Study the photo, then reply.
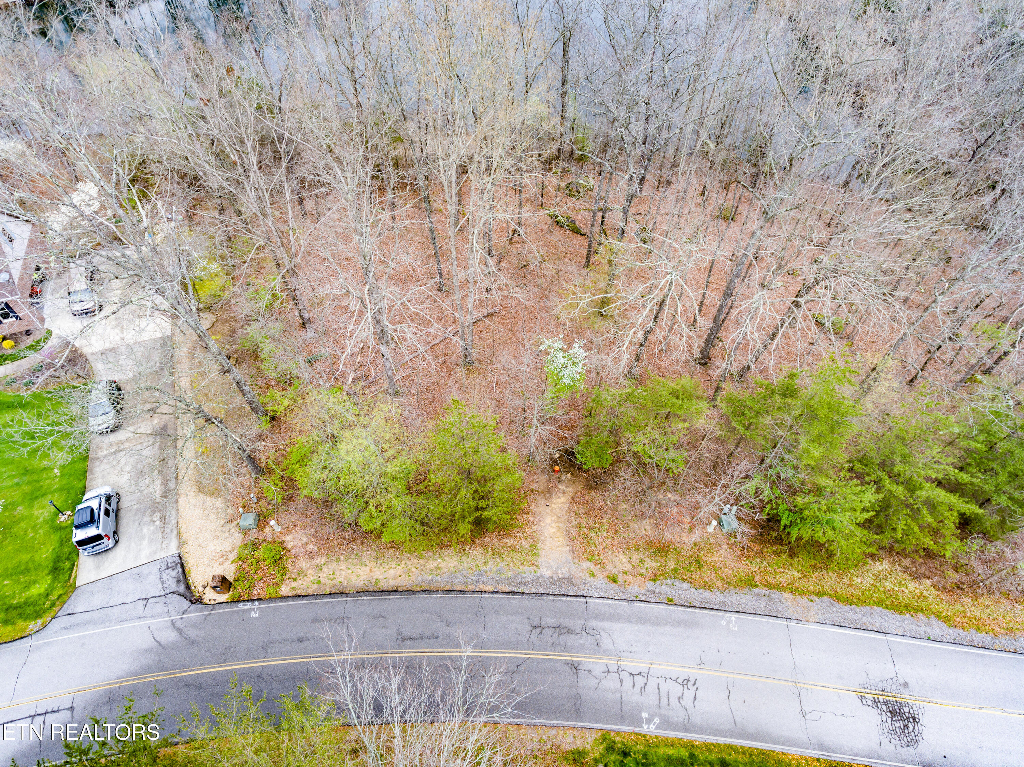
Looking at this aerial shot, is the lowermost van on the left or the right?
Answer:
left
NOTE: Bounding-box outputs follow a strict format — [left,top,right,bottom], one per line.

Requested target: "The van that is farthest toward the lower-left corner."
[71,484,118,563]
